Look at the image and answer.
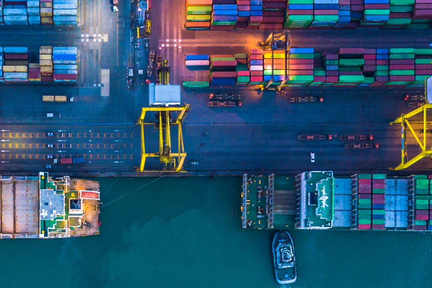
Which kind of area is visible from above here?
port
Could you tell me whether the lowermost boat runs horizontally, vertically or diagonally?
vertically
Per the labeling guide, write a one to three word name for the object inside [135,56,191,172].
container crane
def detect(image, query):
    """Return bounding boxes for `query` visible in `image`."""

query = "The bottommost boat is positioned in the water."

[272,230,296,285]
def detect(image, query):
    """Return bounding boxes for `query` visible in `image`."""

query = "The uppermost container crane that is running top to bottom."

[263,32,290,92]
